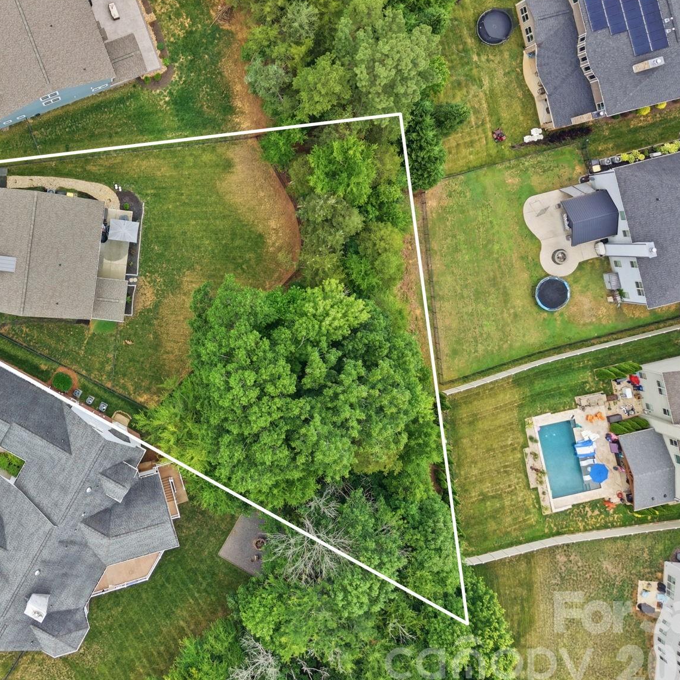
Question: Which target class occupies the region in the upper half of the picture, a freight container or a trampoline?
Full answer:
There is a trampoline in the upper half of the picture.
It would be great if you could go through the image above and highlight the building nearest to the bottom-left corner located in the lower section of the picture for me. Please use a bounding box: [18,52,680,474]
[0,361,190,658]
